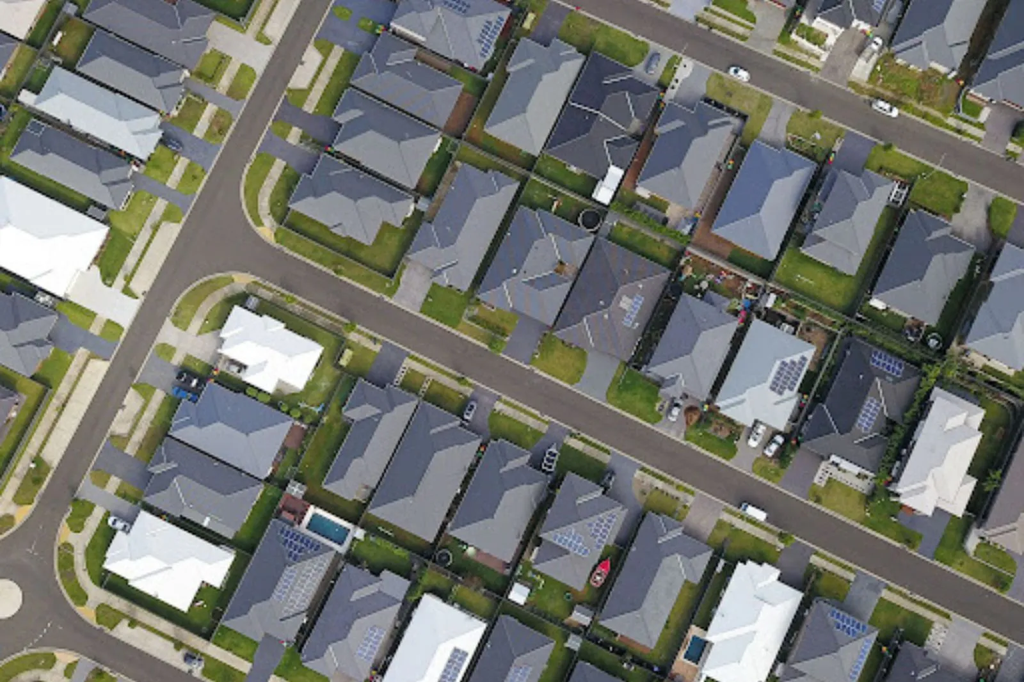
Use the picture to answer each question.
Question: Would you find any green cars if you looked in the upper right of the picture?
No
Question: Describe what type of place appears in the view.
residential area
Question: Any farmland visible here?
No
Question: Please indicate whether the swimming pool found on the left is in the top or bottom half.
bottom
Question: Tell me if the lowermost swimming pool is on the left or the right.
right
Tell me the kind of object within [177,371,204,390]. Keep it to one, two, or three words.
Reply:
car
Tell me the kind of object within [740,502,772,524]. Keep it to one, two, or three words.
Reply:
truck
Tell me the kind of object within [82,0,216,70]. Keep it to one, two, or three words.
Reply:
house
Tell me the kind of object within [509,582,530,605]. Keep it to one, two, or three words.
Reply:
shed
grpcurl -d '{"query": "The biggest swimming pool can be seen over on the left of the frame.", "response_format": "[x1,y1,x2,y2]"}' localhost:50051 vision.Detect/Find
[299,505,356,554]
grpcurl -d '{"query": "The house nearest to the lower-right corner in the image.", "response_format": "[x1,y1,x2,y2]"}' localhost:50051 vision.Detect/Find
[880,642,977,682]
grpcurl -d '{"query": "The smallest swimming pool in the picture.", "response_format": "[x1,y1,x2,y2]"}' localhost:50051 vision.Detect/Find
[681,632,711,668]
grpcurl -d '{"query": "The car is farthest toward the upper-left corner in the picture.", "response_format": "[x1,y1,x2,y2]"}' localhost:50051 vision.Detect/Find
[162,133,184,152]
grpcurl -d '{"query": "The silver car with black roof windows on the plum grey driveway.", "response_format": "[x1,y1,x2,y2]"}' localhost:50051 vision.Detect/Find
[462,399,478,423]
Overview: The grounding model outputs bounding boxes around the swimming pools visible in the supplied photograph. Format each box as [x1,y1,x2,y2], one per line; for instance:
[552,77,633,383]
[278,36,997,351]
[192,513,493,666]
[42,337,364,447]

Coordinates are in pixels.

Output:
[681,632,711,668]
[299,505,356,554]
